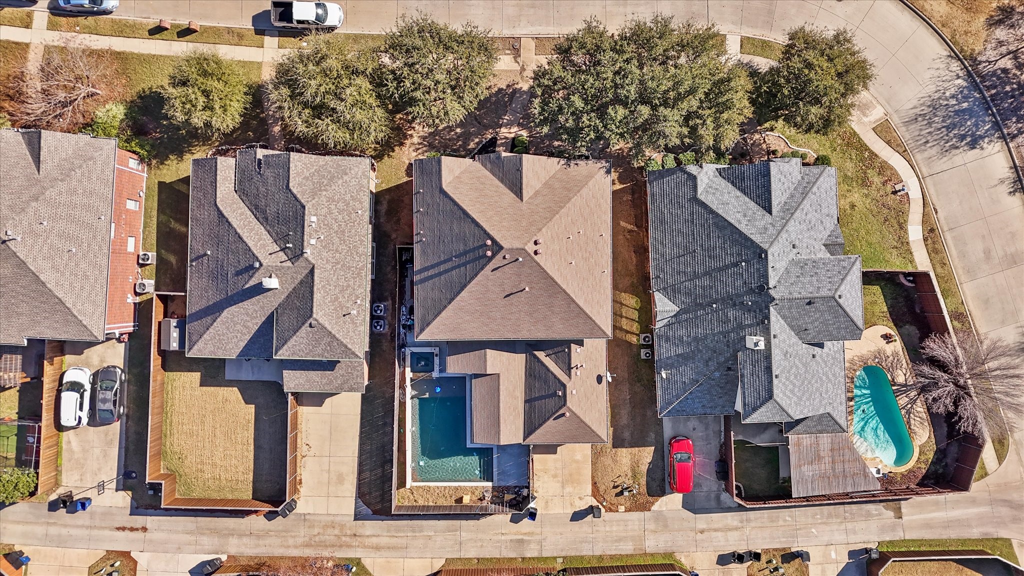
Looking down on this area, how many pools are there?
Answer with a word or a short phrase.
2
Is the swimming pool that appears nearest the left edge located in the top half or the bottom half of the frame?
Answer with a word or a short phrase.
bottom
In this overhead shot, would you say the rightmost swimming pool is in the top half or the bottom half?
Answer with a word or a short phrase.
bottom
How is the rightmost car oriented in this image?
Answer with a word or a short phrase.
up and down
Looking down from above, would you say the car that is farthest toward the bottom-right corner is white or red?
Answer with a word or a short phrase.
red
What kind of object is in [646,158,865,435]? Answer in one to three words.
house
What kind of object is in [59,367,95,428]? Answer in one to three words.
car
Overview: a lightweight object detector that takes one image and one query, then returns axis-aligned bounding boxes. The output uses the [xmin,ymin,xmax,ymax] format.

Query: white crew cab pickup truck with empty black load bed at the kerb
[270,0,343,31]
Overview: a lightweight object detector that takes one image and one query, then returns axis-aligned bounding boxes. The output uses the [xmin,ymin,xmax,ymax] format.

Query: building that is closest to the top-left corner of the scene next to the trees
[0,129,147,346]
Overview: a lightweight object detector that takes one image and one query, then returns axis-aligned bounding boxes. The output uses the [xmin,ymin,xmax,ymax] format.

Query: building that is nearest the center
[413,154,613,445]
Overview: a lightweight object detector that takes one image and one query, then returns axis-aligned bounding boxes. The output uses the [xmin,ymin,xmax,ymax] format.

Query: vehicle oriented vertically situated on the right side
[668,436,697,495]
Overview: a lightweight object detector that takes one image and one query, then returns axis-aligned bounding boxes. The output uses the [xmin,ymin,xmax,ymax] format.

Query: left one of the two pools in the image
[405,346,496,488]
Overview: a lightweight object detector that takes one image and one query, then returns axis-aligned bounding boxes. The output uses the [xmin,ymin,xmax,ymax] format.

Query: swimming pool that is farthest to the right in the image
[849,361,919,471]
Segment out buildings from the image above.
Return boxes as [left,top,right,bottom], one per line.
[186,148,378,392]
[0,129,147,346]
[646,158,865,435]
[413,154,613,445]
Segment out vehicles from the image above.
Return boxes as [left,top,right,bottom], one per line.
[270,0,343,31]
[95,367,127,424]
[59,367,95,428]
[59,0,122,16]
[668,436,697,495]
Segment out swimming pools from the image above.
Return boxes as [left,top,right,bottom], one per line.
[405,346,496,488]
[849,361,919,471]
